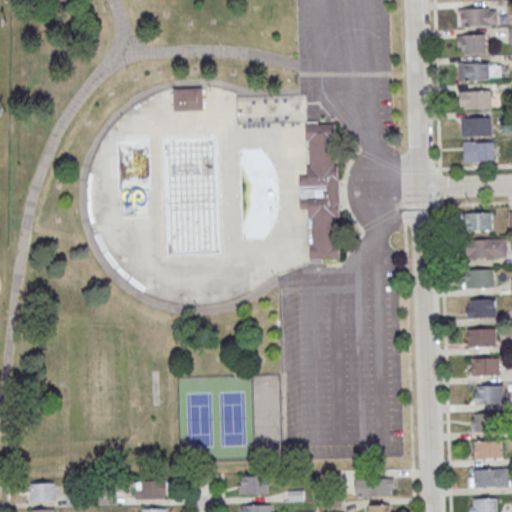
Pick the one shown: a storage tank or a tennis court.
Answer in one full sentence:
Visible in the photo is a tennis court.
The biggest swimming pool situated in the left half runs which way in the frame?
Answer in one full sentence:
The biggest swimming pool situated in the left half runs vertically in the image.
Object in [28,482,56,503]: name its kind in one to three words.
house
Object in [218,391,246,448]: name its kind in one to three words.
tennis court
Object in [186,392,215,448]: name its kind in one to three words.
tennis court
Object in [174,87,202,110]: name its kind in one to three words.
building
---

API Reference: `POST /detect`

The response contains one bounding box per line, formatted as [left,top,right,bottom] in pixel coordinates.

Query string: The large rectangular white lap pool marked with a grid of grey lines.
[164,137,220,256]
